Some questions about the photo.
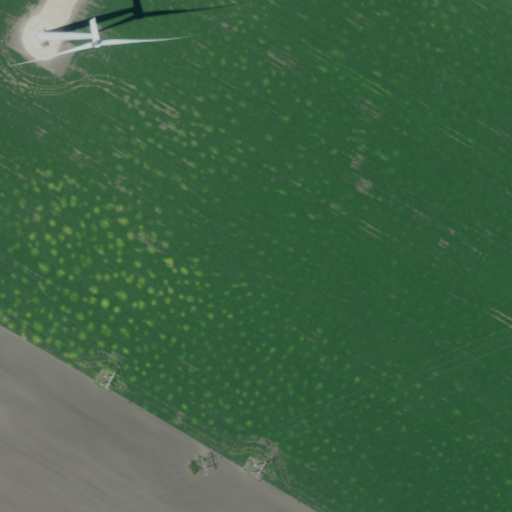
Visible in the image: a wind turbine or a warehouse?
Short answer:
wind turbine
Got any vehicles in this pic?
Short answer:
No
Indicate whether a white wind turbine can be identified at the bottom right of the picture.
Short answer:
No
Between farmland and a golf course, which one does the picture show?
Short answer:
farmland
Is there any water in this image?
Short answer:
No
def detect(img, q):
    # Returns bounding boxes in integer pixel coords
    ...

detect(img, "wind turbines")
[10,16,190,66]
